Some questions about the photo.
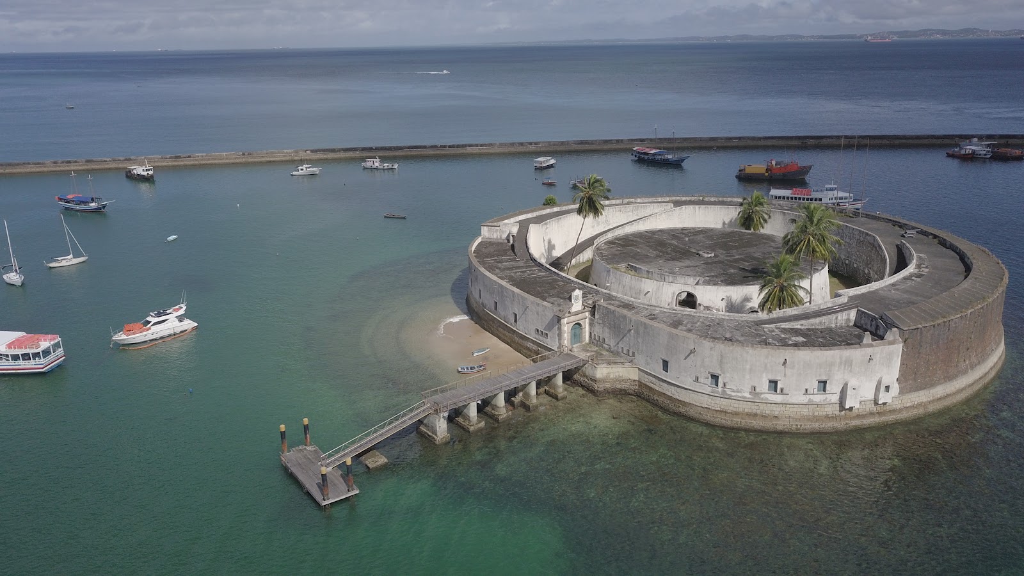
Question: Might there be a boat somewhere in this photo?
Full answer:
Yes, there is a boat in the image.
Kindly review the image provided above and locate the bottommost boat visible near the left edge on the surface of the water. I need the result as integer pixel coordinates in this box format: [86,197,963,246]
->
[0,331,63,373]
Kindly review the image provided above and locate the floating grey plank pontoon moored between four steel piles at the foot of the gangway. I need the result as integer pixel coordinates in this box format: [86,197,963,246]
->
[279,444,364,510]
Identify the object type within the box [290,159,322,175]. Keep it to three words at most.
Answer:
boat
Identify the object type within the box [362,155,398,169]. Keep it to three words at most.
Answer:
boat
